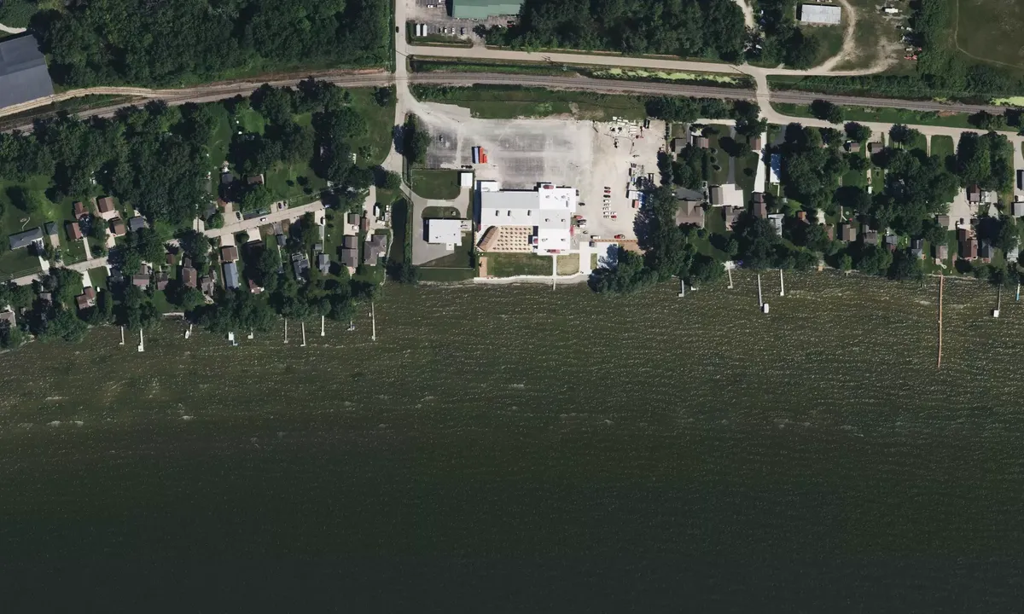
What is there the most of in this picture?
water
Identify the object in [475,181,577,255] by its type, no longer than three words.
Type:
building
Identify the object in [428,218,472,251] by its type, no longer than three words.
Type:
building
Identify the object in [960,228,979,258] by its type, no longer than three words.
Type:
house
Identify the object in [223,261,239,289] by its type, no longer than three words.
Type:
house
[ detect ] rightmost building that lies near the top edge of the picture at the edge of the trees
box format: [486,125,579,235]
[801,3,842,24]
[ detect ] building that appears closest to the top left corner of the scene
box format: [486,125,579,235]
[0,35,48,107]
